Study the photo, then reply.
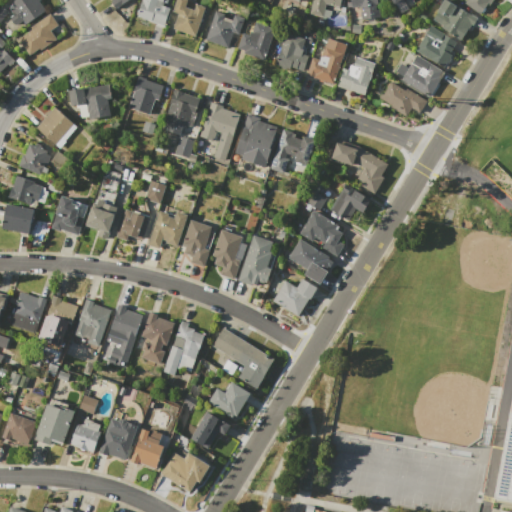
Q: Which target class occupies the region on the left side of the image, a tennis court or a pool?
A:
pool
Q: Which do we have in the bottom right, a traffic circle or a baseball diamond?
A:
baseball diamond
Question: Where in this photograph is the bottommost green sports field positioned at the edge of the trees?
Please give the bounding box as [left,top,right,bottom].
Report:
[338,222,512,448]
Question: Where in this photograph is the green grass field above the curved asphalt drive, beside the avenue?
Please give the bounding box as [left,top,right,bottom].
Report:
[462,56,512,172]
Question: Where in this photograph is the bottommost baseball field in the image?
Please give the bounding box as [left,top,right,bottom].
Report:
[414,372,489,447]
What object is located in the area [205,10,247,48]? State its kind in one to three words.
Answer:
house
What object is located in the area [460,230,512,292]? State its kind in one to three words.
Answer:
baseball field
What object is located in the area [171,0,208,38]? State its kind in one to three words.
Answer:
house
